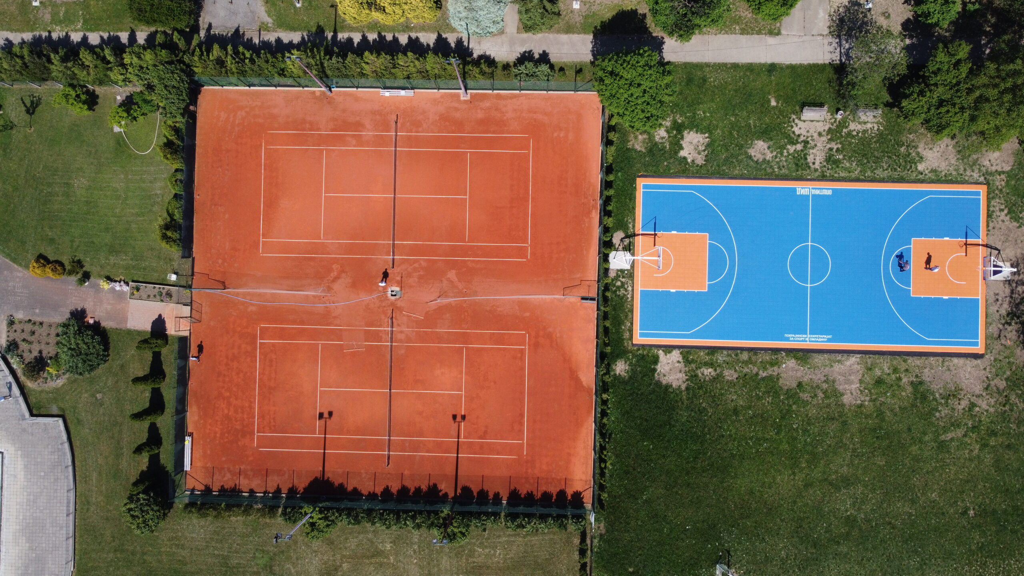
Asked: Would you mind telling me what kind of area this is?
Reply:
sports ground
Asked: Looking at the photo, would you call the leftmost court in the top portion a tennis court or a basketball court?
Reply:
tennis court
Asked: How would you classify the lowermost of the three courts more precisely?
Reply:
tennis court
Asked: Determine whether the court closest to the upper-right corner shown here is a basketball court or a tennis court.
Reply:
basketball court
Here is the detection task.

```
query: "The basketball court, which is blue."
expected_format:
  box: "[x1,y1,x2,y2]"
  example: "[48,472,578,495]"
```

[632,175,987,358]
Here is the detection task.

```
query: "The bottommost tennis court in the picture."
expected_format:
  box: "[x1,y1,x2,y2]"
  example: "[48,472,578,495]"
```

[186,287,596,505]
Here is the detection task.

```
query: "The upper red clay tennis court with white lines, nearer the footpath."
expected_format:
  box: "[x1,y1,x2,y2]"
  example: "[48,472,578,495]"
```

[192,88,600,296]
